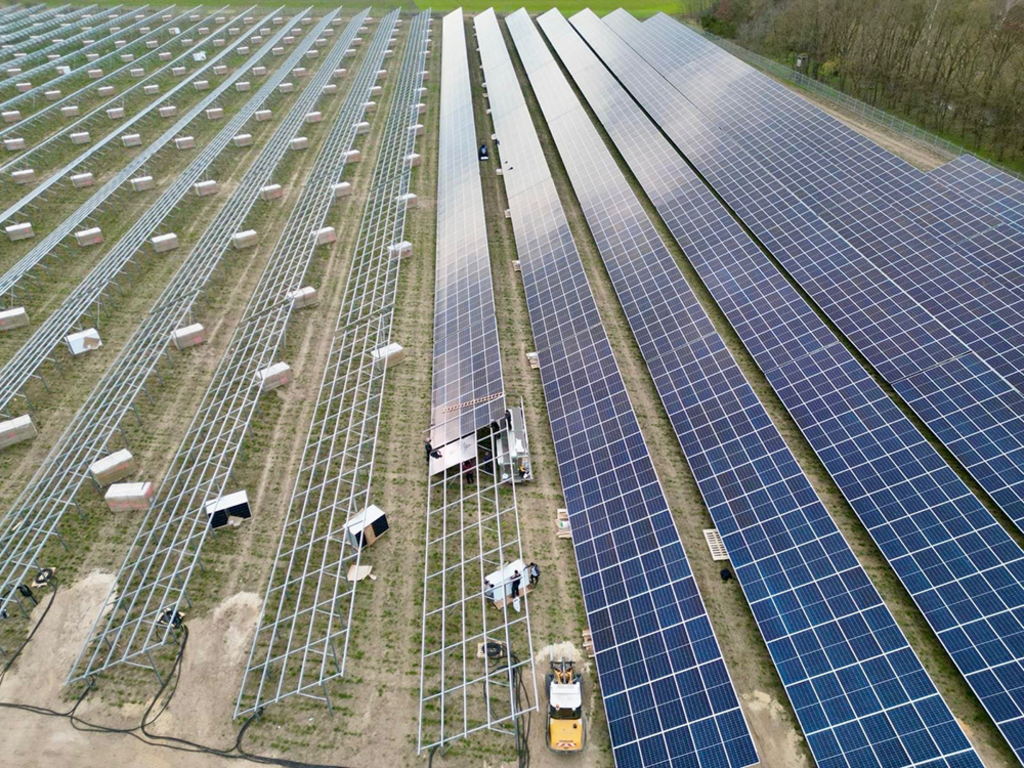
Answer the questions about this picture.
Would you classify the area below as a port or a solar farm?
solar farm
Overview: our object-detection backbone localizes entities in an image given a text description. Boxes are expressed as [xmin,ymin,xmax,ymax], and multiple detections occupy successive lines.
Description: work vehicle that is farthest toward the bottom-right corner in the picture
[544,646,587,762]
